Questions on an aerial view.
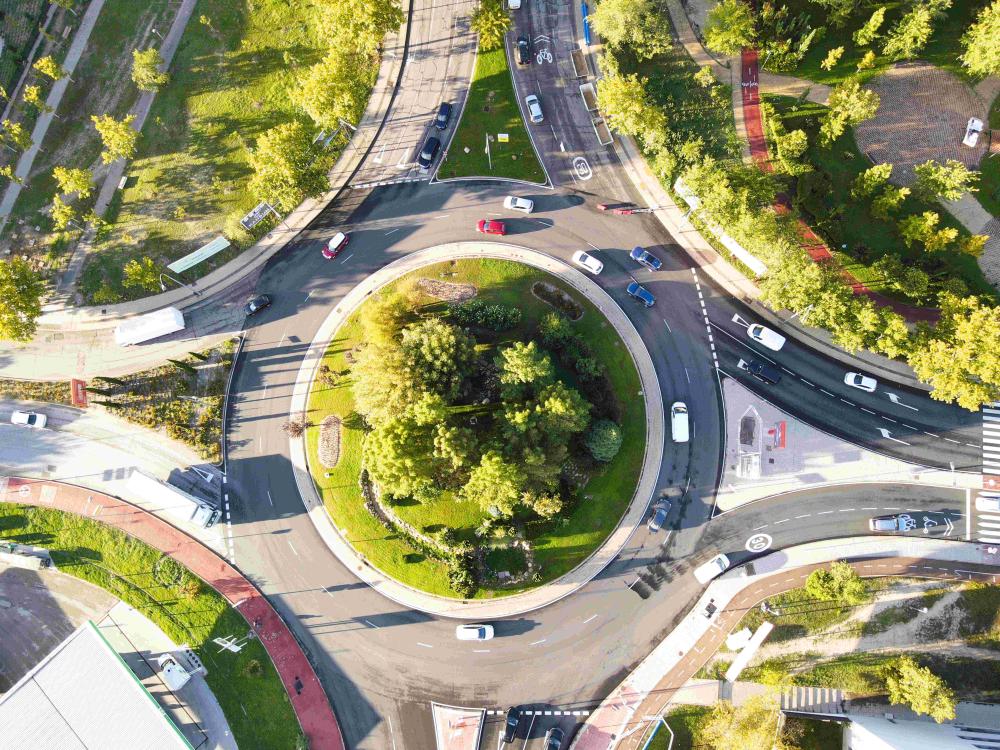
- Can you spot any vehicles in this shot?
Yes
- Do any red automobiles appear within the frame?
Yes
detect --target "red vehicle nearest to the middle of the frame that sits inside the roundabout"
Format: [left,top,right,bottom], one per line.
[475,220,508,237]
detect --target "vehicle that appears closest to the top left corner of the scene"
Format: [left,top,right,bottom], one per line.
[123,310,192,347]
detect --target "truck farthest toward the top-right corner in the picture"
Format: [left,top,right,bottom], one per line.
[956,117,985,150]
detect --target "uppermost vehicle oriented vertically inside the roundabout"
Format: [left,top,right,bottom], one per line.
[669,400,689,442]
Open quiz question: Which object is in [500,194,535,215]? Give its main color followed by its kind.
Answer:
white car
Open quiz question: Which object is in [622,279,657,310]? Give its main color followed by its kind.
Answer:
blue car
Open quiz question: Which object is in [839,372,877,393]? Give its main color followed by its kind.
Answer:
white car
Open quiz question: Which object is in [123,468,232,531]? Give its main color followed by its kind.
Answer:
white truck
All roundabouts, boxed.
[222,179,725,713]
